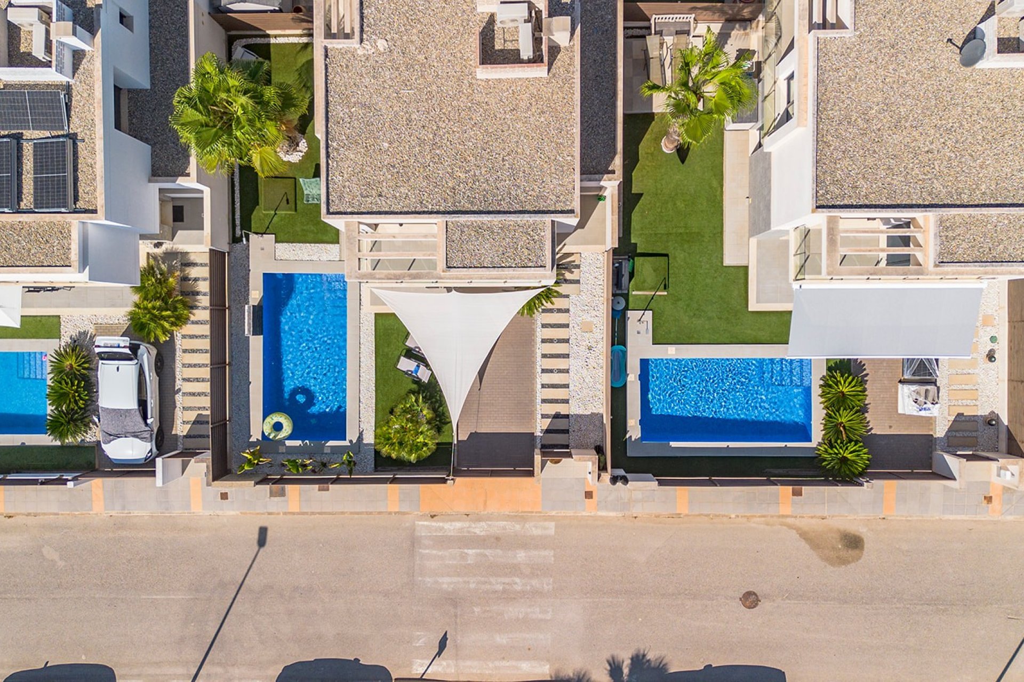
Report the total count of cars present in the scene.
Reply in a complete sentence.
The count comes to 1 car.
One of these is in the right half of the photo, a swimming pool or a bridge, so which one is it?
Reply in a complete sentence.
You can see a swimming pool in the right half of the photo.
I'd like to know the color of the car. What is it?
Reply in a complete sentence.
The car is white.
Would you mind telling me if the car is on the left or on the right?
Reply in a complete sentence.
The car is on the left side of the image.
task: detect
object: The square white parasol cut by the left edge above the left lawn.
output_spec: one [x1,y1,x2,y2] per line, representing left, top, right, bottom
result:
[0,289,23,327]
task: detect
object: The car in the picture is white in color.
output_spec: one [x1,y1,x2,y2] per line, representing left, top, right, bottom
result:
[91,327,167,464]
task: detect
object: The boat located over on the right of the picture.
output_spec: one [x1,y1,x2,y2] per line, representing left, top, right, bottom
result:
[612,346,627,387]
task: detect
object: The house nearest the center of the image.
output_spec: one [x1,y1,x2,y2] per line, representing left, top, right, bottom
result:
[315,0,625,289]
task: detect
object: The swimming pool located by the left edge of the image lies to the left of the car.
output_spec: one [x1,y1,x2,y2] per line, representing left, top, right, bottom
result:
[0,352,47,434]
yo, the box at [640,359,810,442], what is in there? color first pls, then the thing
blue swimming pool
